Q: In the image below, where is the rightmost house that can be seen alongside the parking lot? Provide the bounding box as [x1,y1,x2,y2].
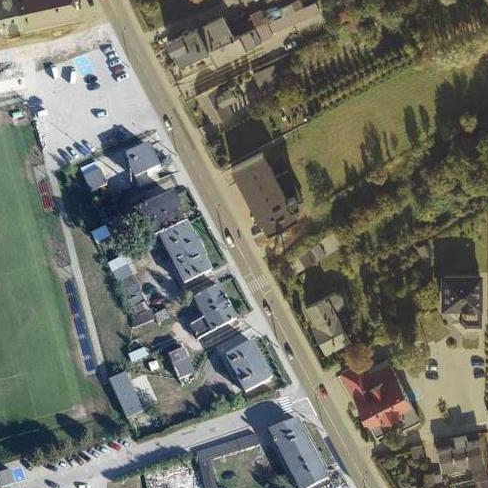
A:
[340,363,413,431]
